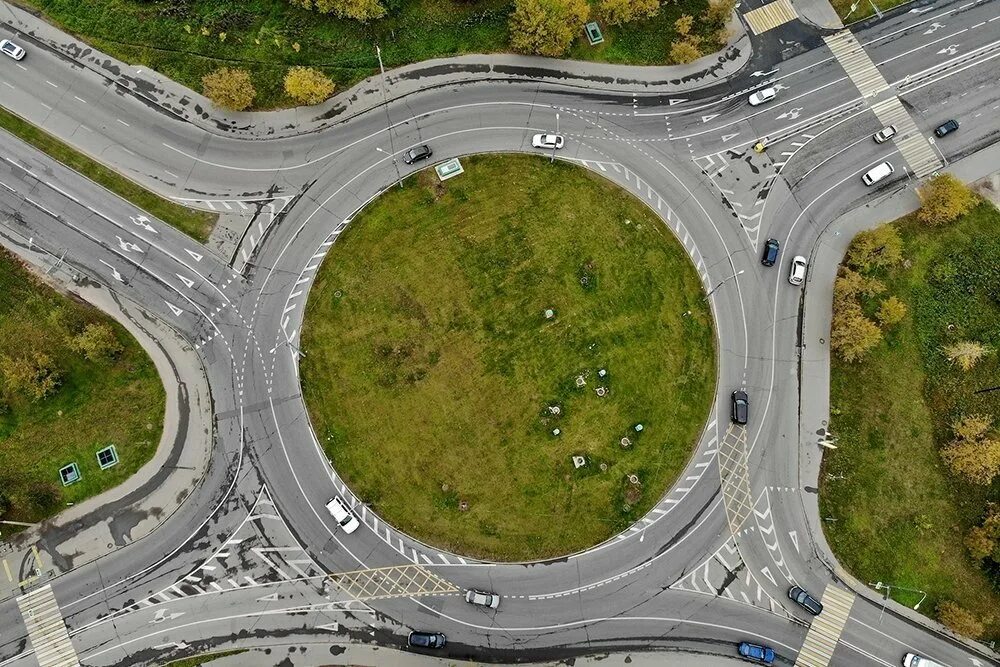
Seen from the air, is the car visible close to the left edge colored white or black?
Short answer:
white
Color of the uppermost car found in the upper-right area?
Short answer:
white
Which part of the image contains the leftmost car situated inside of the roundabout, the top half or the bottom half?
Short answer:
bottom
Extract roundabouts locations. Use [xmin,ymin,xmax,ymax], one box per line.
[162,82,799,657]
